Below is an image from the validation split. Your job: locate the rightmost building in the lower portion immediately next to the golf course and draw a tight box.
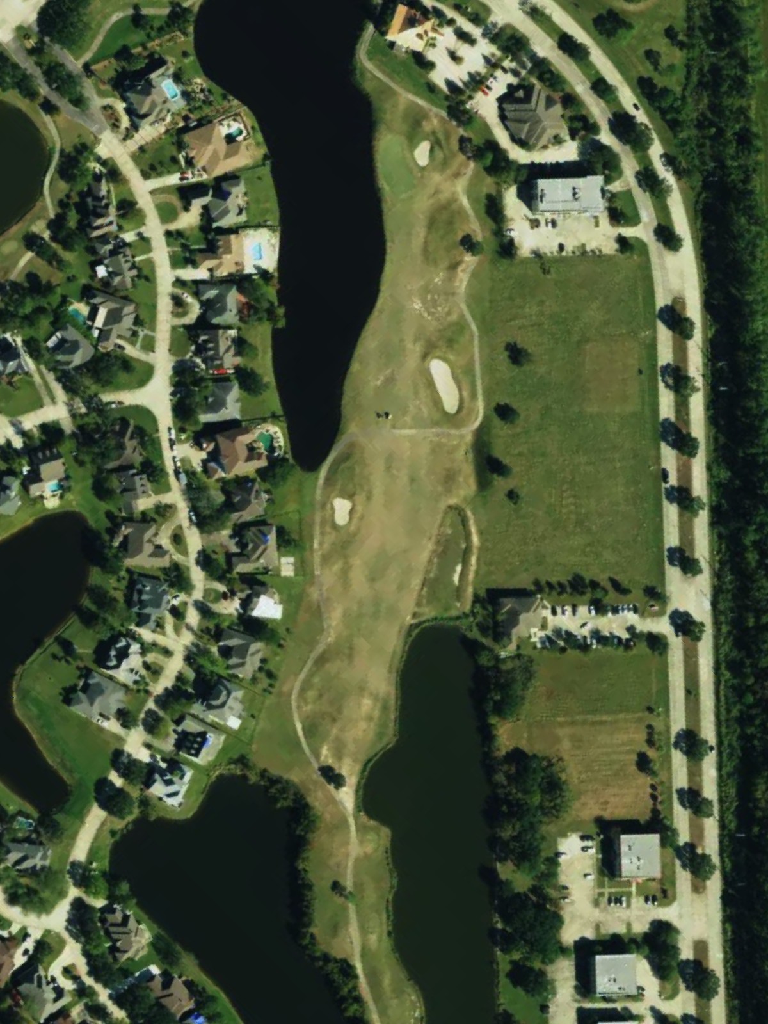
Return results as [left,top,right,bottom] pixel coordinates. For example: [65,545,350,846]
[493,594,547,648]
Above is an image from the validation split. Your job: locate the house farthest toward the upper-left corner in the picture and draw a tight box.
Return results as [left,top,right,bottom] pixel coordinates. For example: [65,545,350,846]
[121,70,171,132]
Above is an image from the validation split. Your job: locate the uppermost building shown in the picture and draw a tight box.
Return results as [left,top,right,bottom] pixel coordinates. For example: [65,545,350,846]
[386,1,438,40]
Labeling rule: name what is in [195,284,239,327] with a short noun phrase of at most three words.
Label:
house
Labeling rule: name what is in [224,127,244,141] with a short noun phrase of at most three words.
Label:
swimming pool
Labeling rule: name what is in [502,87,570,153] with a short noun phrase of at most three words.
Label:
building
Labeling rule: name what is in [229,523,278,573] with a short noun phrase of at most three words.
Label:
house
